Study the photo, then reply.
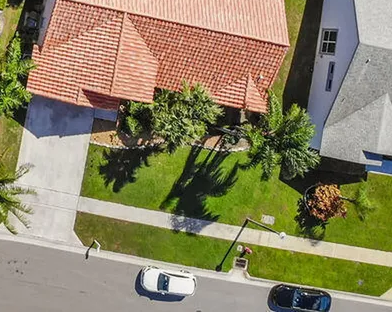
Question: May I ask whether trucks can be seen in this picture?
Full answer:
No, I can't see a single truck in this photo.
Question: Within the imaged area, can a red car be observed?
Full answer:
No, the photo shows no red car.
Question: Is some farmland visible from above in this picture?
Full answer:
No, there is no farmland in the image.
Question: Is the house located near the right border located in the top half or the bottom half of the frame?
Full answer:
The house located near the right border is in the top half of the image.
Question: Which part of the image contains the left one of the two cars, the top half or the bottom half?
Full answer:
The bottom half of the photo is where the left one of the two cars is.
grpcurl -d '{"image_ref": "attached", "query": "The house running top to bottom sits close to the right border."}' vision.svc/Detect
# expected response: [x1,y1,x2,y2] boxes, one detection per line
[309,0,392,171]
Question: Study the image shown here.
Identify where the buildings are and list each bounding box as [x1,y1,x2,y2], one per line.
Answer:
[309,0,392,171]
[25,0,290,113]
